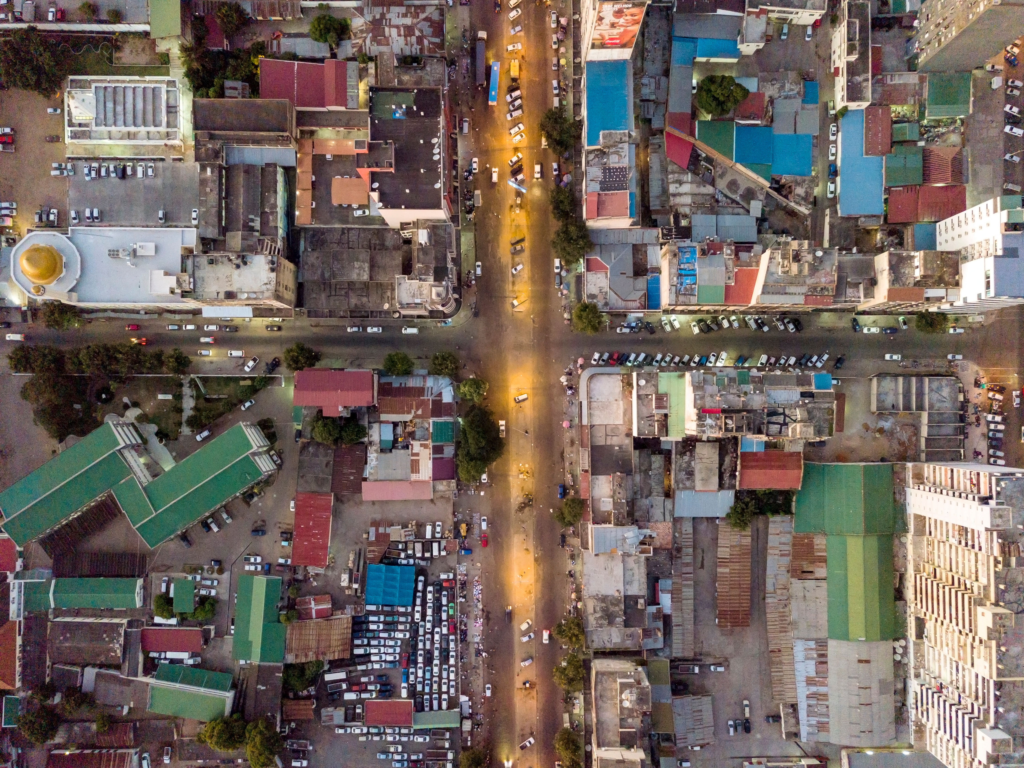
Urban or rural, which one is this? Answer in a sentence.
The area shown here is urban.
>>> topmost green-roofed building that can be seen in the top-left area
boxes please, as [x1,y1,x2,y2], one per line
[148,0,188,45]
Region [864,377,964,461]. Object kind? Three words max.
building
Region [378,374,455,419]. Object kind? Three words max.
house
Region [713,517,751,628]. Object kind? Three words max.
shed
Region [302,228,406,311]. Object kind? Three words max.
building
